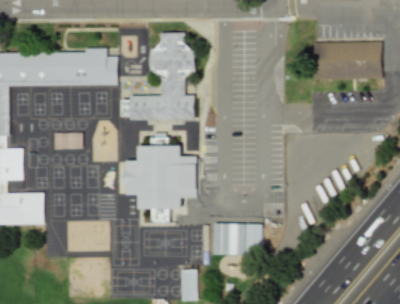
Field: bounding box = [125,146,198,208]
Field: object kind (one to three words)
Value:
building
